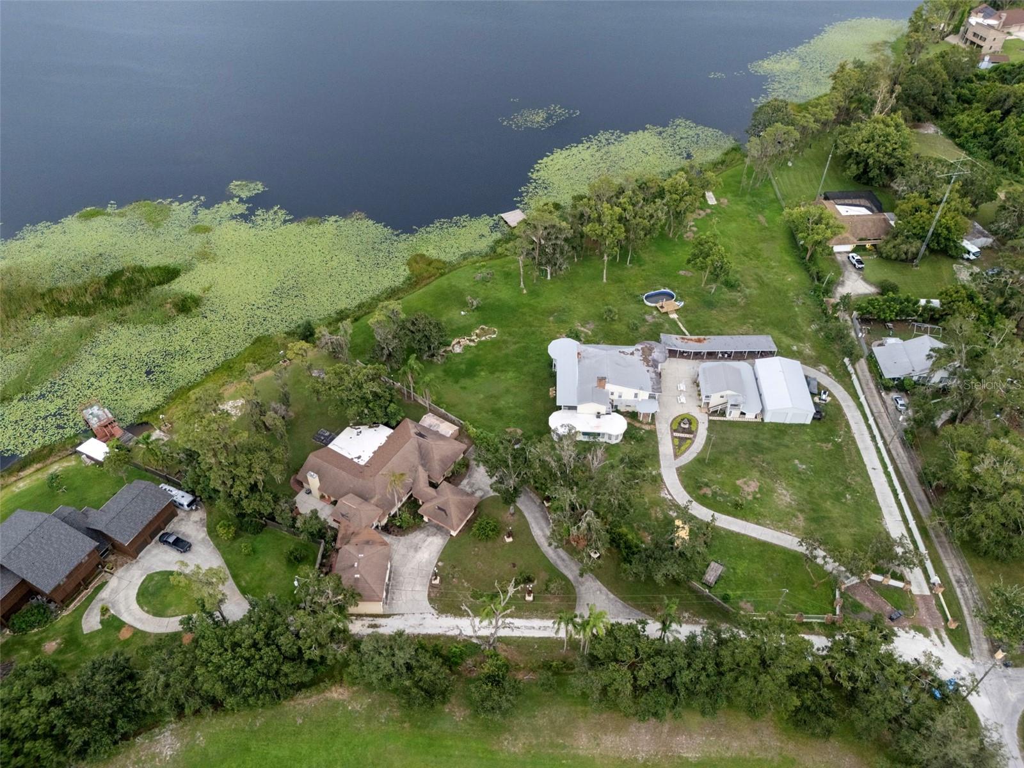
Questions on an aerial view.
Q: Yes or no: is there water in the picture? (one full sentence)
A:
Yes, some water is visible.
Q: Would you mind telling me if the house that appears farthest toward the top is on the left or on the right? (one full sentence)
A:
The house that appears farthest toward the top sits on the right side.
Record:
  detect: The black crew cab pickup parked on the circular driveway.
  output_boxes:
[155,530,192,552]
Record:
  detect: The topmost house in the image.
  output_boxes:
[953,4,1024,54]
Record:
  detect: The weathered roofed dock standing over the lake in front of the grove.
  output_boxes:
[501,209,531,237]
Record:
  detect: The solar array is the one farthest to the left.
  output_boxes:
[313,427,337,446]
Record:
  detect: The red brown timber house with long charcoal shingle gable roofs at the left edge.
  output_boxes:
[0,481,179,626]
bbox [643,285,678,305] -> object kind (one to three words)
swimming pool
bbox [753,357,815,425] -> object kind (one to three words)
building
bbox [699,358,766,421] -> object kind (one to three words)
house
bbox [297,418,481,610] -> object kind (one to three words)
house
